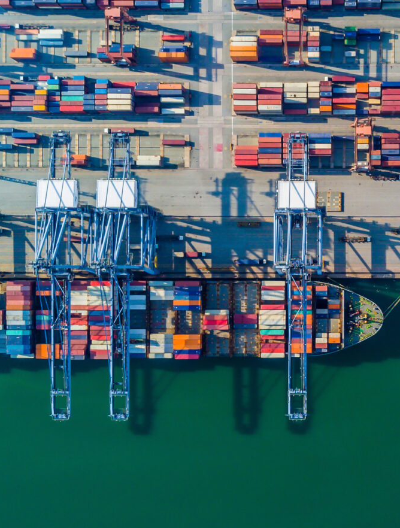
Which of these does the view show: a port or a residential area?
port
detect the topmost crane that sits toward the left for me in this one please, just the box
[103,0,137,64]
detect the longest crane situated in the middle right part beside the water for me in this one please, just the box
[272,130,330,421]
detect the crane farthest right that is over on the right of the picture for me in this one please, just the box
[351,112,376,170]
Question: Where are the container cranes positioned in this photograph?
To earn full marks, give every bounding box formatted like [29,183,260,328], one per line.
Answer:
[282,0,307,64]
[351,112,376,170]
[272,130,330,421]
[94,130,172,421]
[28,130,111,421]
[103,0,137,64]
